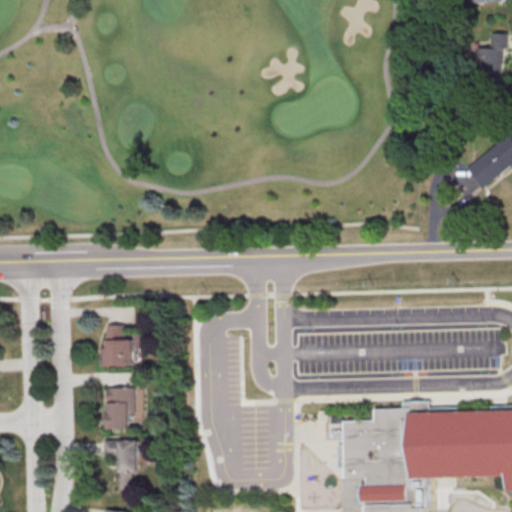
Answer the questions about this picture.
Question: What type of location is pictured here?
golf course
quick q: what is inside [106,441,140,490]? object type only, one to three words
house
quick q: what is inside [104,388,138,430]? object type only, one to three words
house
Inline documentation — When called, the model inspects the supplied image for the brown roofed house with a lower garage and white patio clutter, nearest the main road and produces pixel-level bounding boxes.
[102,325,142,366]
